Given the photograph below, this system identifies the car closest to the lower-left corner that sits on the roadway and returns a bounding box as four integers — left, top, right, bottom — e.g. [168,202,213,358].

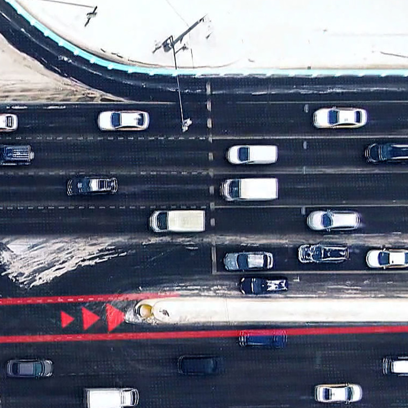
[6,357,54,380]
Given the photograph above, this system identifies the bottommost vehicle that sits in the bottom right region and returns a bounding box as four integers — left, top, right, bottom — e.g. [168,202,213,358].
[313,383,362,405]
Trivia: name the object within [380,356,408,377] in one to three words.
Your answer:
vehicle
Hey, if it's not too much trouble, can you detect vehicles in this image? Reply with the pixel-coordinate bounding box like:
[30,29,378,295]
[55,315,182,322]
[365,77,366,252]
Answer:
[224,143,281,165]
[0,114,17,133]
[295,242,350,265]
[313,383,362,405]
[380,356,408,377]
[364,248,408,269]
[236,328,287,350]
[6,357,54,380]
[222,250,274,272]
[218,177,281,202]
[361,142,408,164]
[237,275,289,296]
[66,175,117,198]
[148,209,209,233]
[0,143,35,166]
[96,110,149,131]
[82,386,138,408]
[312,107,367,128]
[304,209,362,231]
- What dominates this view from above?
paved ground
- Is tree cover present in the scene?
No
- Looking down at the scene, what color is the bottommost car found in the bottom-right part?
white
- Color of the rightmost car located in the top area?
black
